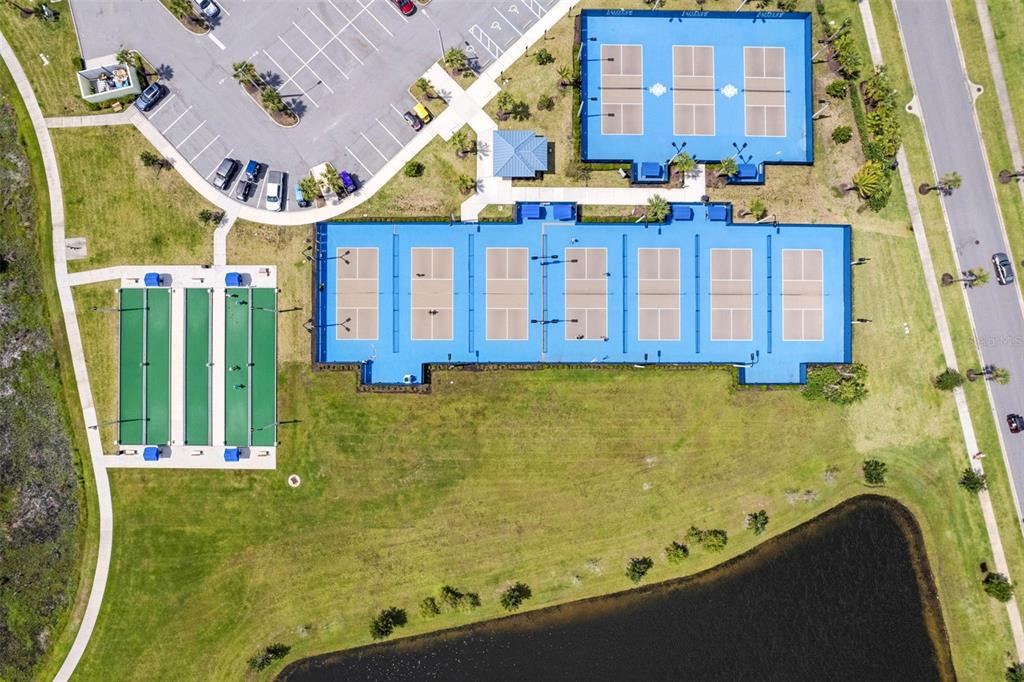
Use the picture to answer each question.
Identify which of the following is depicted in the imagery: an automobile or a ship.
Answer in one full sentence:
Looking from above, you can make out an automobile.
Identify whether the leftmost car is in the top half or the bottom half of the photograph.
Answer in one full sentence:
It is in the top half that the leftmost car appears.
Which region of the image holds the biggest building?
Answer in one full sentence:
Look in the top portion of the view to spot the biggest building.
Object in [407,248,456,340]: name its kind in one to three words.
sports court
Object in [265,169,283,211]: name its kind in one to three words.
vehicle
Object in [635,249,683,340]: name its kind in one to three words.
sports court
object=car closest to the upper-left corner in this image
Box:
[132,78,163,109]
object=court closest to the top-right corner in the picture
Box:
[743,46,791,137]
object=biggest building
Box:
[493,130,547,179]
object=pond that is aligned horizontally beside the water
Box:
[289,499,944,682]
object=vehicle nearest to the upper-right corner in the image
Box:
[993,253,1015,285]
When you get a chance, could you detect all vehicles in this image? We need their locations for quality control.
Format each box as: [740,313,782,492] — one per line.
[415,101,432,121]
[196,0,219,17]
[993,253,1015,285]
[338,171,357,191]
[213,156,237,190]
[265,169,283,211]
[236,180,253,199]
[292,184,308,204]
[132,78,163,109]
[244,161,261,182]
[1008,414,1024,434]
[403,108,421,129]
